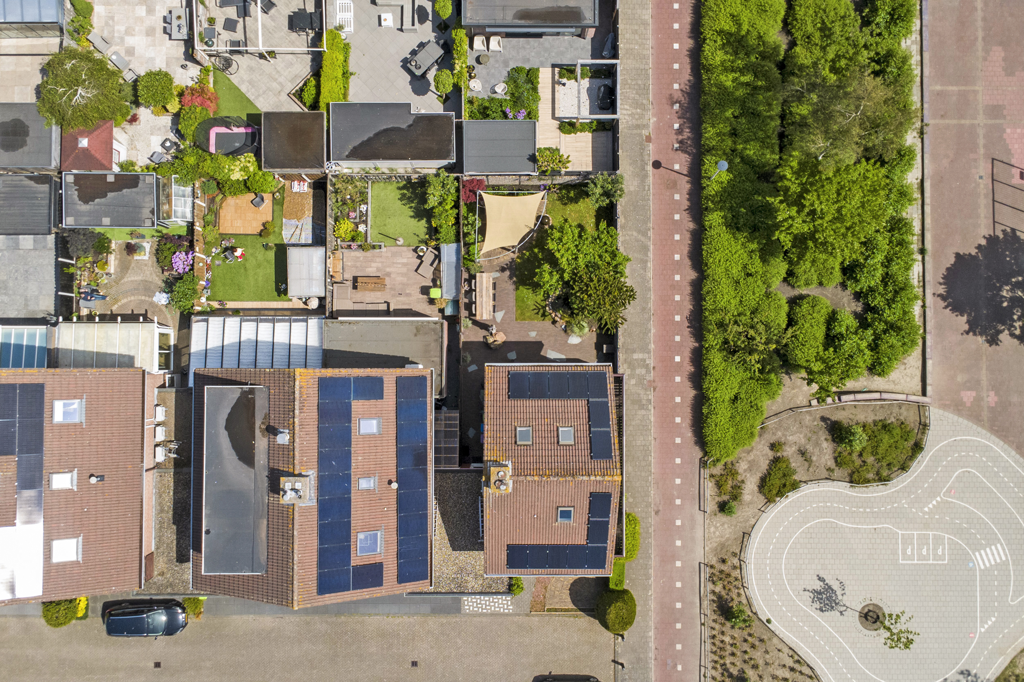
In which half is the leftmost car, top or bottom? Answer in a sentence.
It is in the bottom half that the leftmost car appears.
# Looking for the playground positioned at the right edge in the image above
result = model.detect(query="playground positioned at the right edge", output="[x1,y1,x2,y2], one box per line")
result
[746,408,1024,682]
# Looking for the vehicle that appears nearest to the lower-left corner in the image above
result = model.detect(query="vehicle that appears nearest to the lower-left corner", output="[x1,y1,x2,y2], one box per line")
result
[105,601,190,643]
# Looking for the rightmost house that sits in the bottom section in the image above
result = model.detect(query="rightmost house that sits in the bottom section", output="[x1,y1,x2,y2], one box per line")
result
[483,362,624,578]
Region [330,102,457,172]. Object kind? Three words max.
shed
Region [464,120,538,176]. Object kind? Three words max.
shed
